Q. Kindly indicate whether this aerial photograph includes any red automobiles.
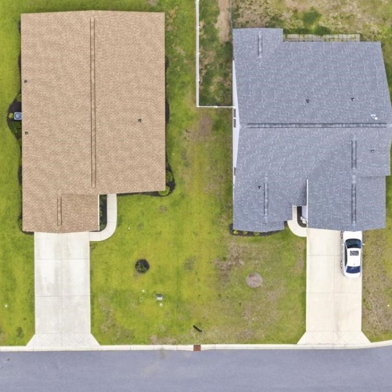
No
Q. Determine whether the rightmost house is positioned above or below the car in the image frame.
above it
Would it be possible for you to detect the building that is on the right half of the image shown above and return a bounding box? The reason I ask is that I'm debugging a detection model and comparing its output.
[230,28,392,233]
